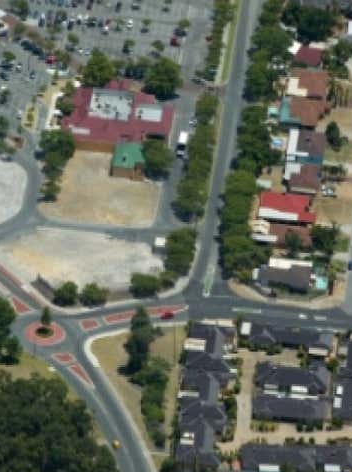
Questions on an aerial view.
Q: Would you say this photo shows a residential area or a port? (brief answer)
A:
residential area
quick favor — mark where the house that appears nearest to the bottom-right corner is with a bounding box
[314,443,352,472]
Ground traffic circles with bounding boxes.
[11,311,80,355]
